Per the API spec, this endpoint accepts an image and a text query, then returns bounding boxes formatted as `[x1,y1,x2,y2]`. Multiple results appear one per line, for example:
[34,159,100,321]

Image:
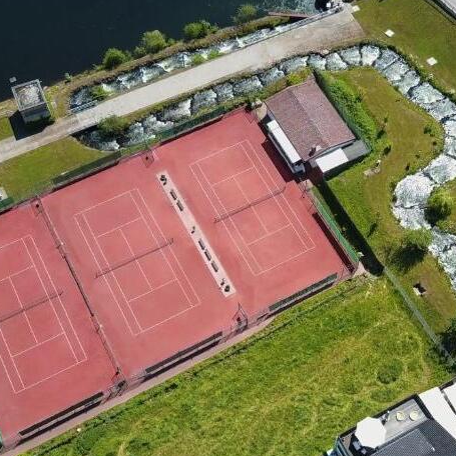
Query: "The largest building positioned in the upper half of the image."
[266,84,356,168]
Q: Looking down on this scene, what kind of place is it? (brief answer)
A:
sports ground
